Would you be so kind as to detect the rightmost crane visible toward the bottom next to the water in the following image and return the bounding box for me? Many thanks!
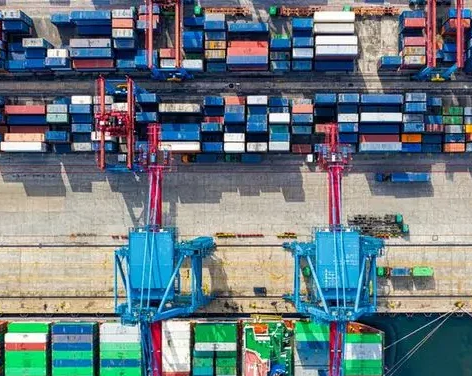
[280,121,388,376]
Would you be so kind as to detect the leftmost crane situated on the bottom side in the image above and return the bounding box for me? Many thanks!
[111,122,218,376]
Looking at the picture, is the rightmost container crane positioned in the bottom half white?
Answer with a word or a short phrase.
No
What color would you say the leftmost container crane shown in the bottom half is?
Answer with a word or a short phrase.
blue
